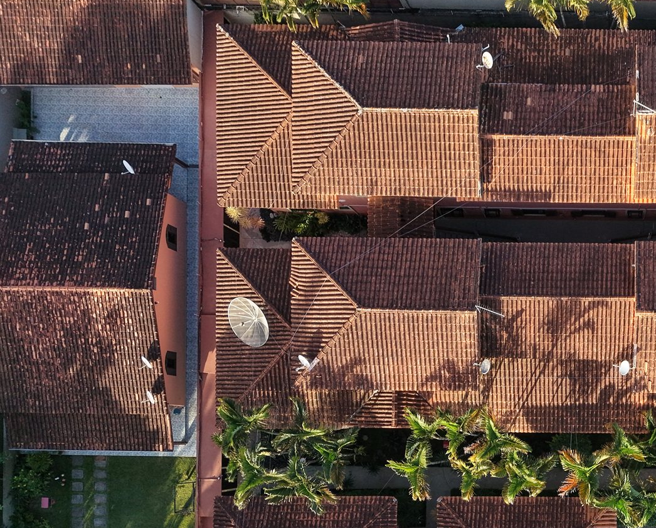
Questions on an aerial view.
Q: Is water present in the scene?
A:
No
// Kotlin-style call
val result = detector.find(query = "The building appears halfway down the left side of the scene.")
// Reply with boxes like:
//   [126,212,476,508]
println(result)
[0,142,203,453]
